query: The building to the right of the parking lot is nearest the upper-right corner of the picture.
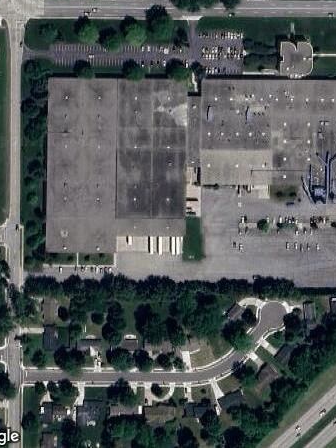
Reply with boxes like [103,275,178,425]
[279,42,314,77]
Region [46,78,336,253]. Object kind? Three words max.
building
